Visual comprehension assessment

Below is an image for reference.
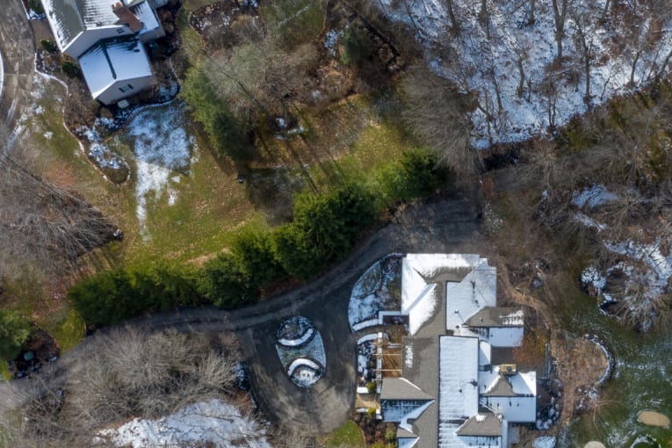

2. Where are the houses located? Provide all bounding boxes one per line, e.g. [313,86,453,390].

[380,254,536,448]
[40,0,167,101]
